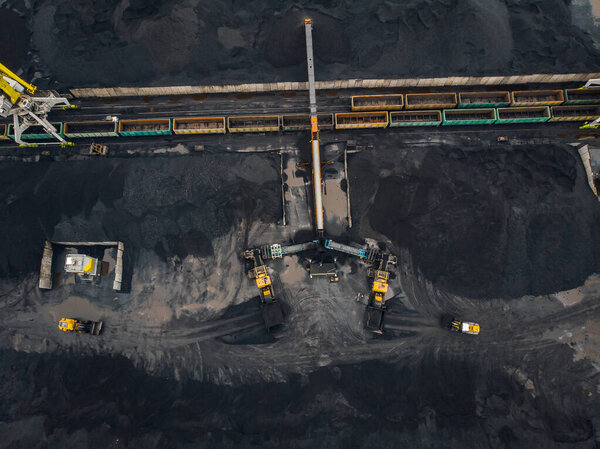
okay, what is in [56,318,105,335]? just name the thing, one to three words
work vehicle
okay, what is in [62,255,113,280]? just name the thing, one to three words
work vehicle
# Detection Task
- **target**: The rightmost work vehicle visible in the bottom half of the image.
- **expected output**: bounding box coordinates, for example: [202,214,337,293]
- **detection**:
[442,315,481,335]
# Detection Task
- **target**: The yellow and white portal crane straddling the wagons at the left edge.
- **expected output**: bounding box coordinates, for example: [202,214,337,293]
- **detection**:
[0,60,80,145]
